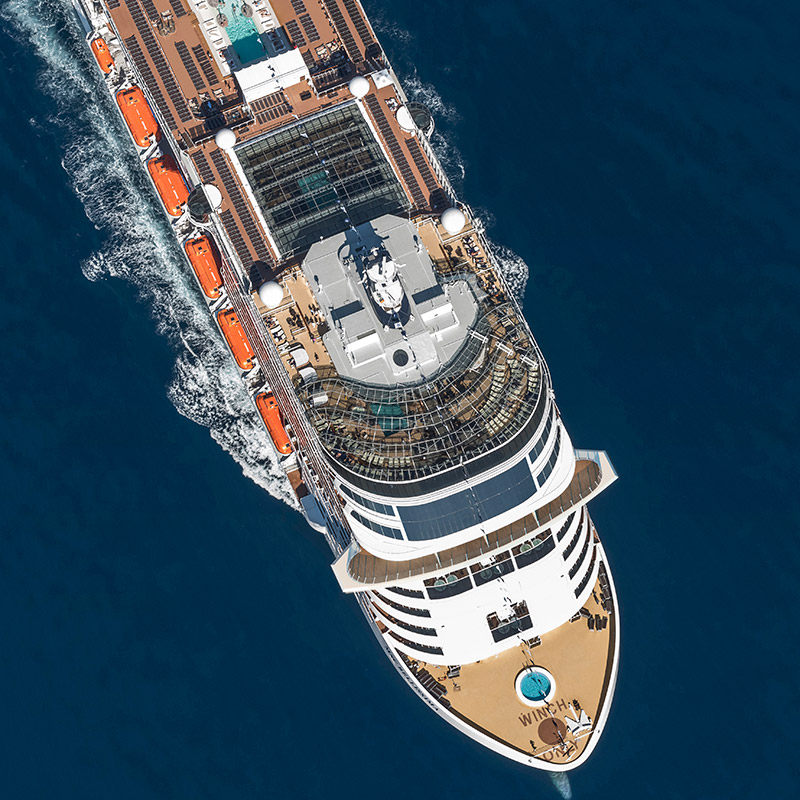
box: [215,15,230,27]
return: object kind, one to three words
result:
umbrella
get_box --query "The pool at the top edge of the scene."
[186,0,295,96]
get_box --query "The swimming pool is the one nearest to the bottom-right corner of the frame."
[516,667,555,706]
